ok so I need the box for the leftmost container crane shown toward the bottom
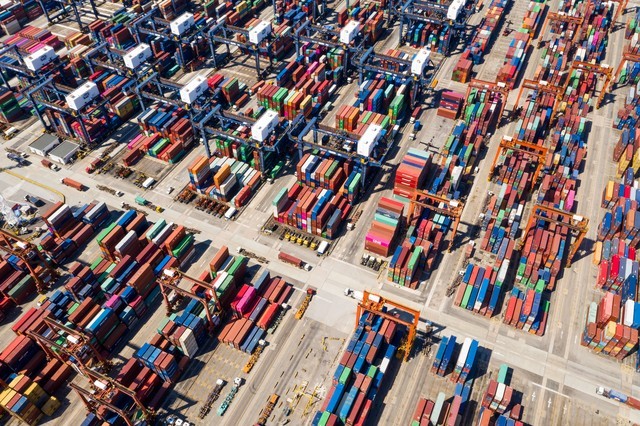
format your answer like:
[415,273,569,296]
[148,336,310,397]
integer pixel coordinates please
[0,229,58,292]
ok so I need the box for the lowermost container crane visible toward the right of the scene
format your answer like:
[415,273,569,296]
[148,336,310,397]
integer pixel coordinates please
[352,287,421,359]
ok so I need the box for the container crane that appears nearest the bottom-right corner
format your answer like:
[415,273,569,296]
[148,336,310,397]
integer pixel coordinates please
[519,202,589,265]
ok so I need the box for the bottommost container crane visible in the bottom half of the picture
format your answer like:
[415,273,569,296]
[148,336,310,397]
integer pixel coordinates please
[66,364,153,426]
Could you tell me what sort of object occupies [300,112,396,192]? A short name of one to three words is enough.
container crane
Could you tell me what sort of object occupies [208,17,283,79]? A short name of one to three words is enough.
container crane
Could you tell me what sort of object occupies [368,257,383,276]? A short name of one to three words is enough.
vehicle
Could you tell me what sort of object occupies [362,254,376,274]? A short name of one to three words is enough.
vehicle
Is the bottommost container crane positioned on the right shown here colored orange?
Yes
